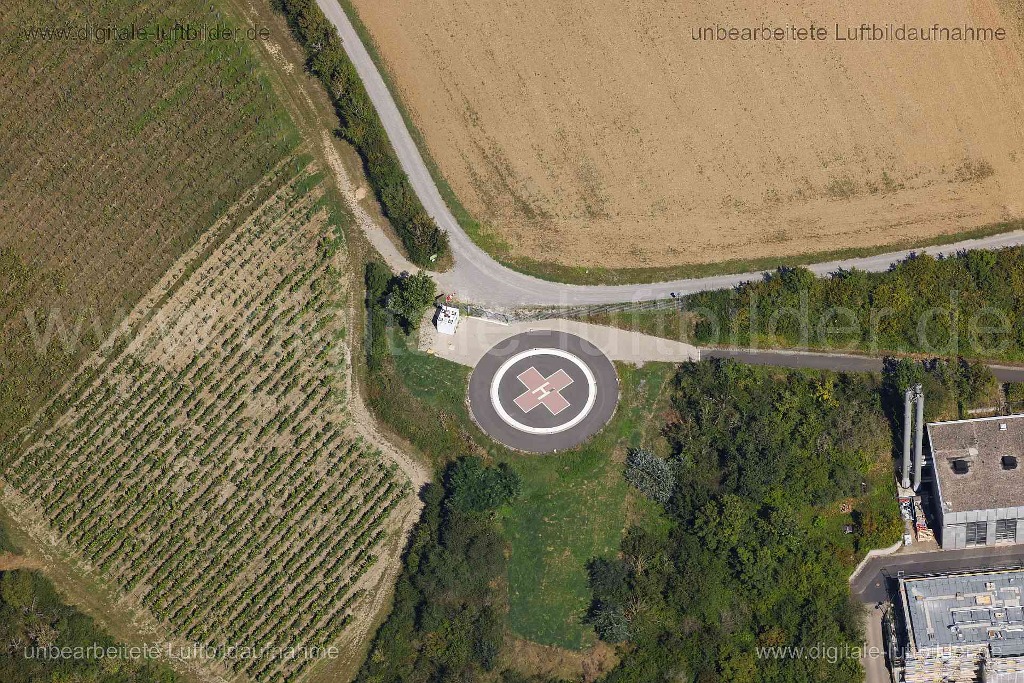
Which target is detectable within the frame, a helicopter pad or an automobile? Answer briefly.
helicopter pad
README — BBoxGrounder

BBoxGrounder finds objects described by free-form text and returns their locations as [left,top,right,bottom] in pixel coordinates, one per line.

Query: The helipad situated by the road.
[469,329,619,453]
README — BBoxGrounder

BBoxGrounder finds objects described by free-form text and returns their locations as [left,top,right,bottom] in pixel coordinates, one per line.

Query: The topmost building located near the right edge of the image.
[928,413,1024,551]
